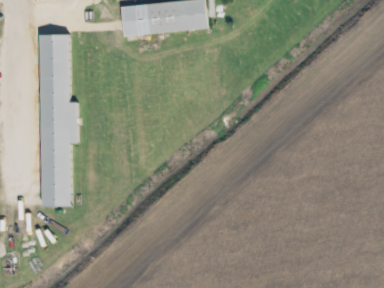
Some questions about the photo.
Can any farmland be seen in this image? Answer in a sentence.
Yes, there's farmland in this view.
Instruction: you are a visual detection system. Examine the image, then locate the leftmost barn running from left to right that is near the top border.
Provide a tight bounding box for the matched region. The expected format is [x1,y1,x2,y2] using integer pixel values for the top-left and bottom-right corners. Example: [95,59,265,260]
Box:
[121,0,210,36]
